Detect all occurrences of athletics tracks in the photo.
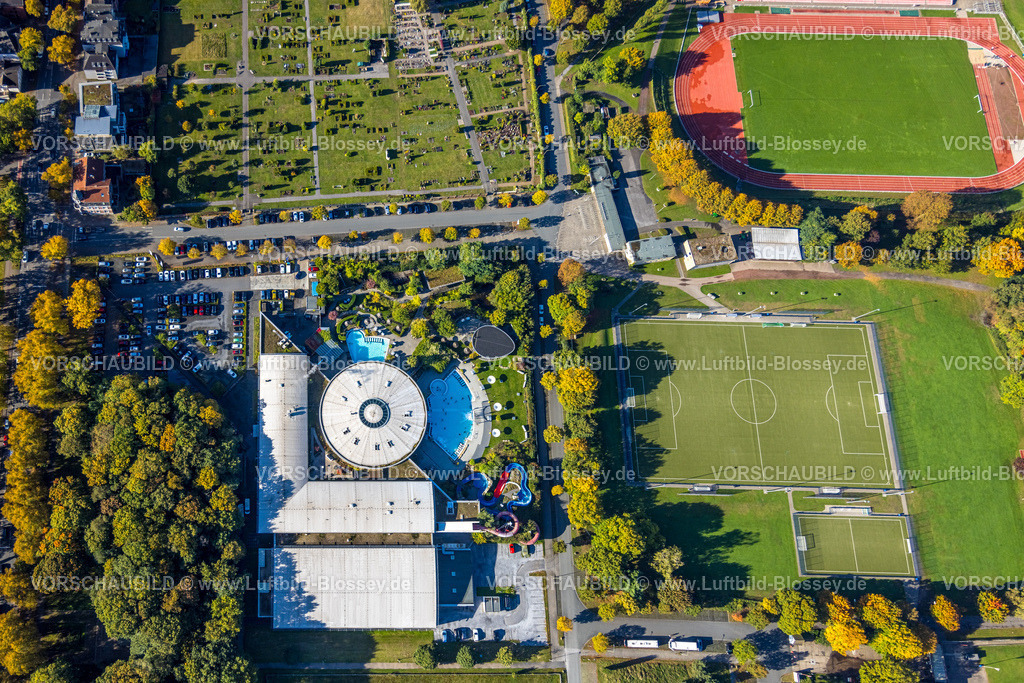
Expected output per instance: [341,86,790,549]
[671,8,1024,193]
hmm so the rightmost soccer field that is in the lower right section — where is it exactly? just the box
[795,514,914,577]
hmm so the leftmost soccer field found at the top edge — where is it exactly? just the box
[732,33,998,177]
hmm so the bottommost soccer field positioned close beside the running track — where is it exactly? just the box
[620,319,895,488]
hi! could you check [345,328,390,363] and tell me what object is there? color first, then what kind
blue swimming pool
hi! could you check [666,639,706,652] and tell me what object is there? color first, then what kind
white vehicle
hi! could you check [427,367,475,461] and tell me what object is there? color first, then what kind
blue swimming pool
